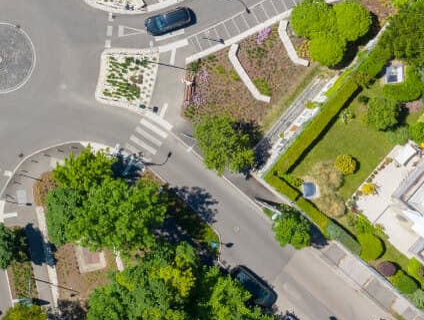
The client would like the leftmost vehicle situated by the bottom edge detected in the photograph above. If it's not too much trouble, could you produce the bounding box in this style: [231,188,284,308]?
[231,261,276,309]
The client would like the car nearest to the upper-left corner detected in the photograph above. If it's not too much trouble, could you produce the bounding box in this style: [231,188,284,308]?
[143,6,194,36]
